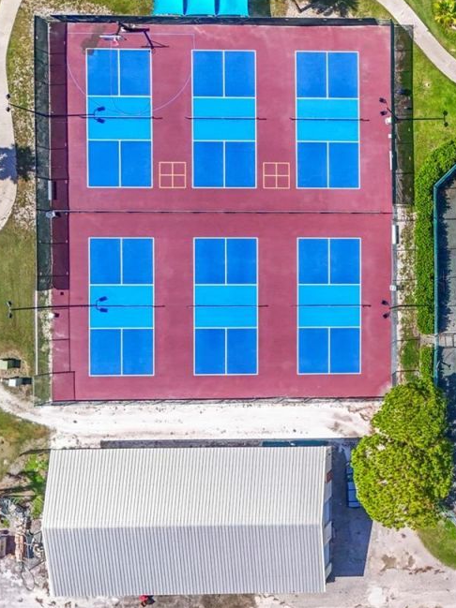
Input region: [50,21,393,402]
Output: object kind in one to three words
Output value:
sports court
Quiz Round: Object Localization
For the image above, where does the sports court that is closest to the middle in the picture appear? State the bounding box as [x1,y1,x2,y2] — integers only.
[192,235,258,376]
